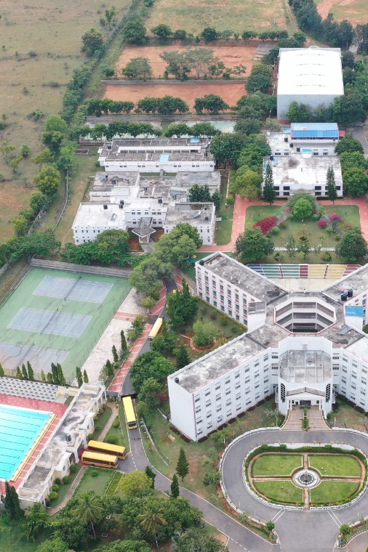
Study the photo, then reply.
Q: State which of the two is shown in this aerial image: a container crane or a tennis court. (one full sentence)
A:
Looking from above, you can make out a tennis court.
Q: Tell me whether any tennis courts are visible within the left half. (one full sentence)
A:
Yes, a tennis court can be seen within the left half.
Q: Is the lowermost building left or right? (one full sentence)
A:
You can find the lowermost building on the left side of the picture.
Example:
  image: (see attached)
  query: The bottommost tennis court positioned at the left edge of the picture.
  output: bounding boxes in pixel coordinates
[0,342,69,374]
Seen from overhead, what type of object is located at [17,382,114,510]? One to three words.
building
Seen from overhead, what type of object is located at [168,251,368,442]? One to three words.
building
